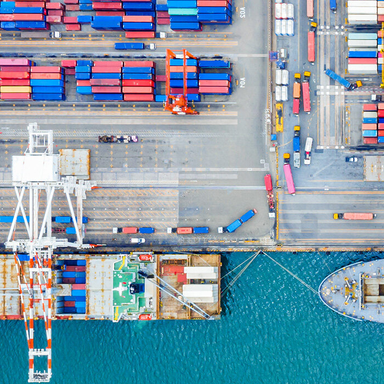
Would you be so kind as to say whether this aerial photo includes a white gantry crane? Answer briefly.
Yes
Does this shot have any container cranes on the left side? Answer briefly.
Yes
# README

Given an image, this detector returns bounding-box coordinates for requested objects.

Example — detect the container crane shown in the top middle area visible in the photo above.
[166,47,201,118]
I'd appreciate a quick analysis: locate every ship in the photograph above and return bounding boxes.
[318,258,384,324]
[0,255,221,322]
